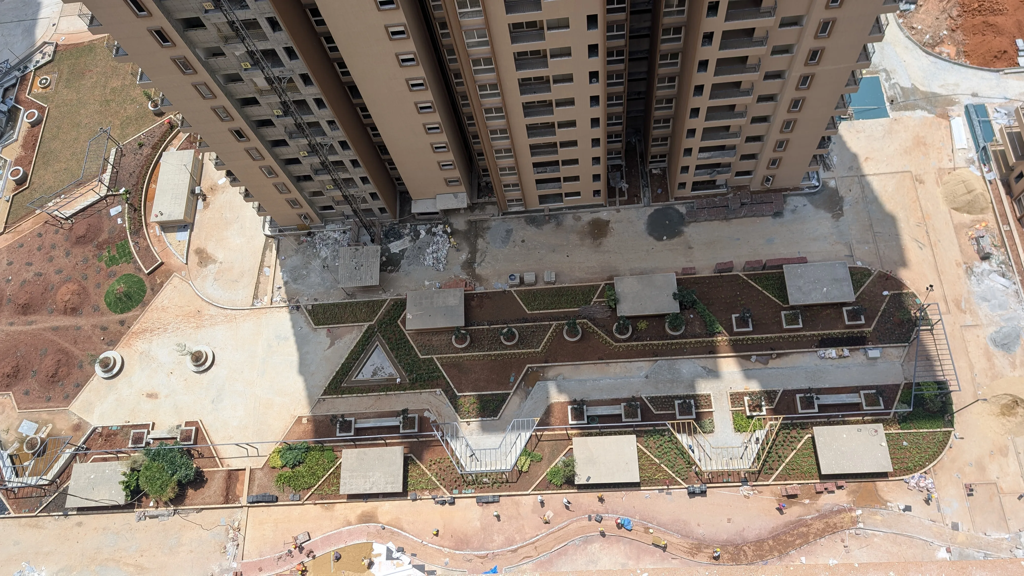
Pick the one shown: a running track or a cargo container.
running track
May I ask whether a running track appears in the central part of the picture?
No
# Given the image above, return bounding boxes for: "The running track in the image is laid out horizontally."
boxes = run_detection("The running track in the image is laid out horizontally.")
[234,507,857,575]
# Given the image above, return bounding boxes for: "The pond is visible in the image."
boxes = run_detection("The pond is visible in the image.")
[342,334,406,386]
